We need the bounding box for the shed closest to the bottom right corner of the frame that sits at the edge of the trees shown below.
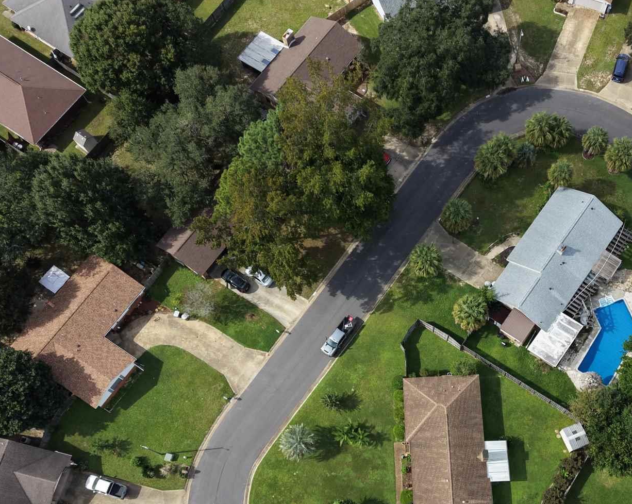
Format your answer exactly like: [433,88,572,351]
[559,423,590,452]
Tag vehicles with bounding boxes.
[321,312,360,357]
[611,57,631,85]
[84,474,131,499]
[220,267,252,295]
[242,264,275,290]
